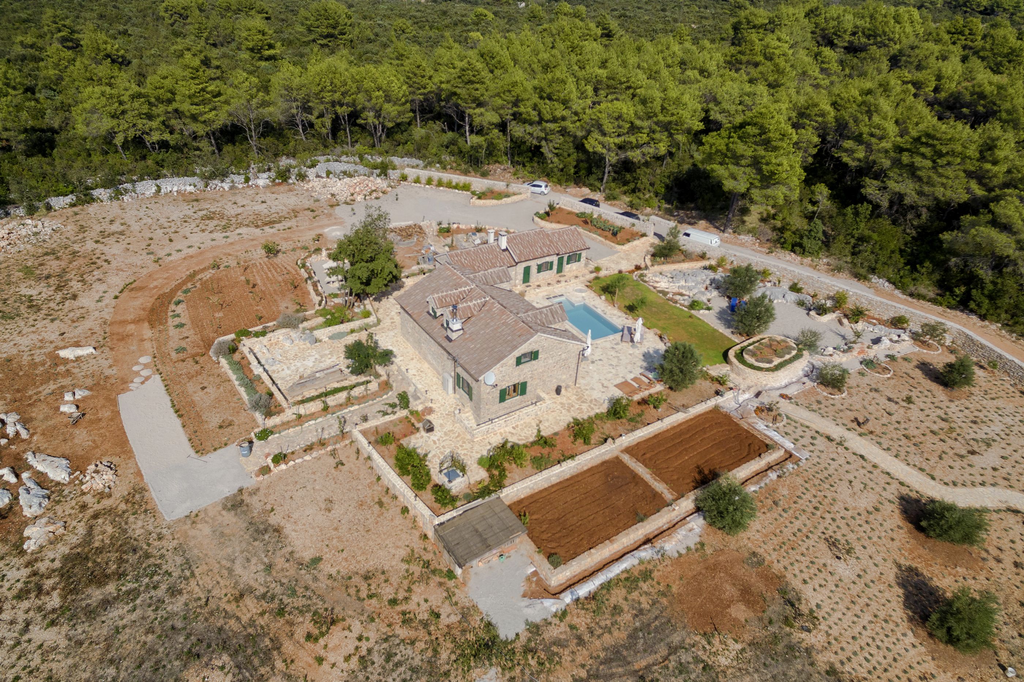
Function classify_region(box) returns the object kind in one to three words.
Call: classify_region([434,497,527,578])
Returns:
shed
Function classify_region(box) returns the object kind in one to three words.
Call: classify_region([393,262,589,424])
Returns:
house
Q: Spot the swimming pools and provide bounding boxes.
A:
[548,294,629,342]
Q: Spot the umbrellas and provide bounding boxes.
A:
[583,334,591,361]
[630,321,640,348]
